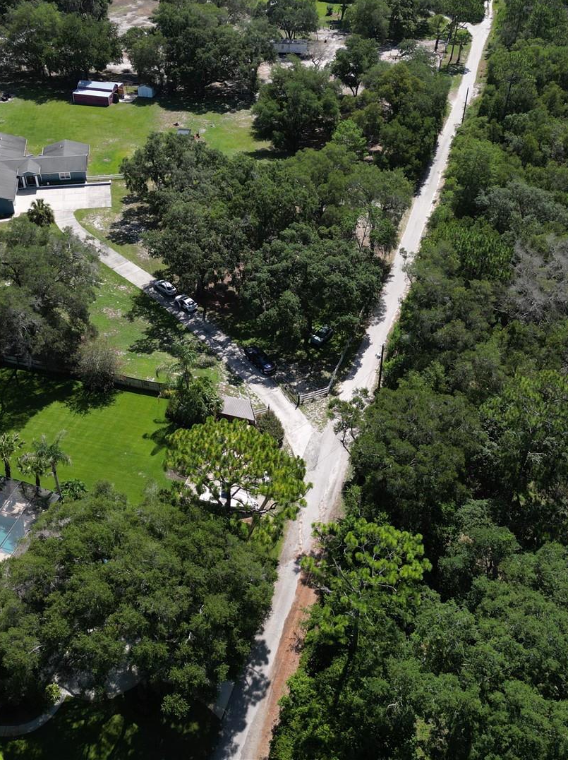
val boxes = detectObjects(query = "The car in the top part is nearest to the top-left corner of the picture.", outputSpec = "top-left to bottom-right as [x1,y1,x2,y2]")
[152,277,179,298]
